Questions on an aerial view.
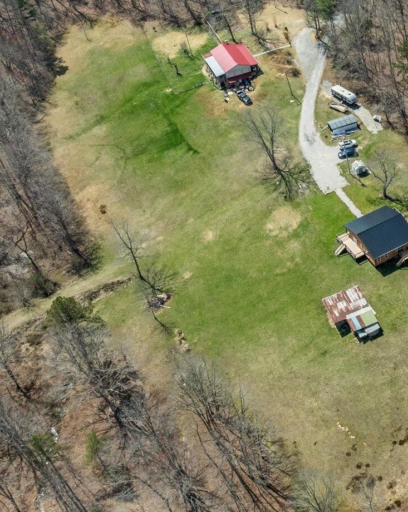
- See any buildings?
Yes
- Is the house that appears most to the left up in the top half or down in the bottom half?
top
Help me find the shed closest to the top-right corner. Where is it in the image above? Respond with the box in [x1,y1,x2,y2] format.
[327,114,359,136]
